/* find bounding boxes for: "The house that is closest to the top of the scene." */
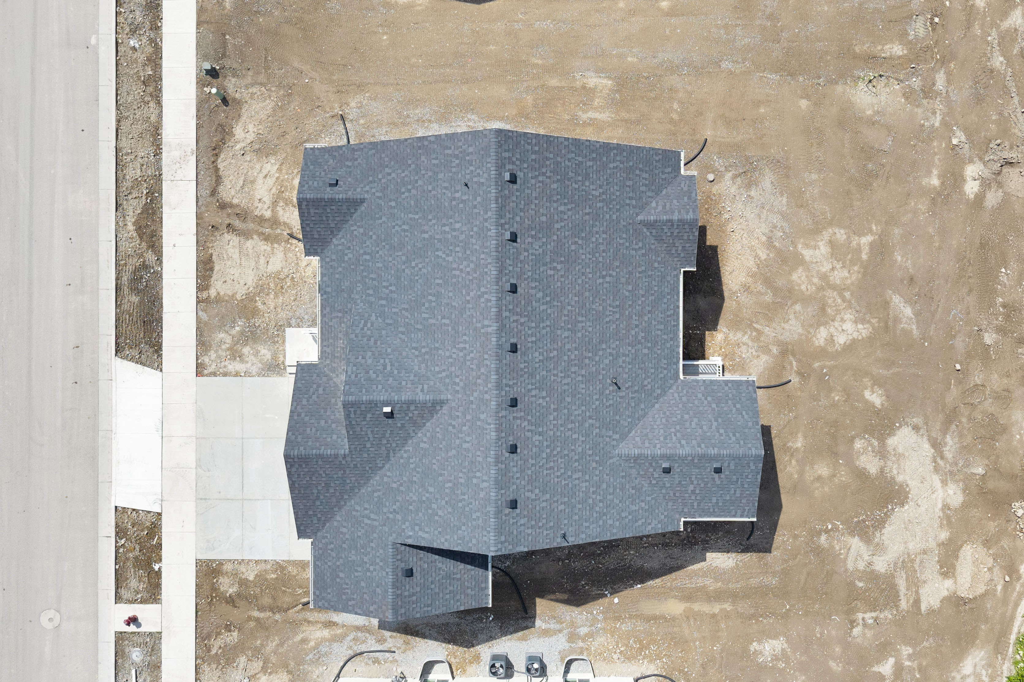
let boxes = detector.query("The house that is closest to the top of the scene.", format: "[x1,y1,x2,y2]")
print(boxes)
[284,128,764,622]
